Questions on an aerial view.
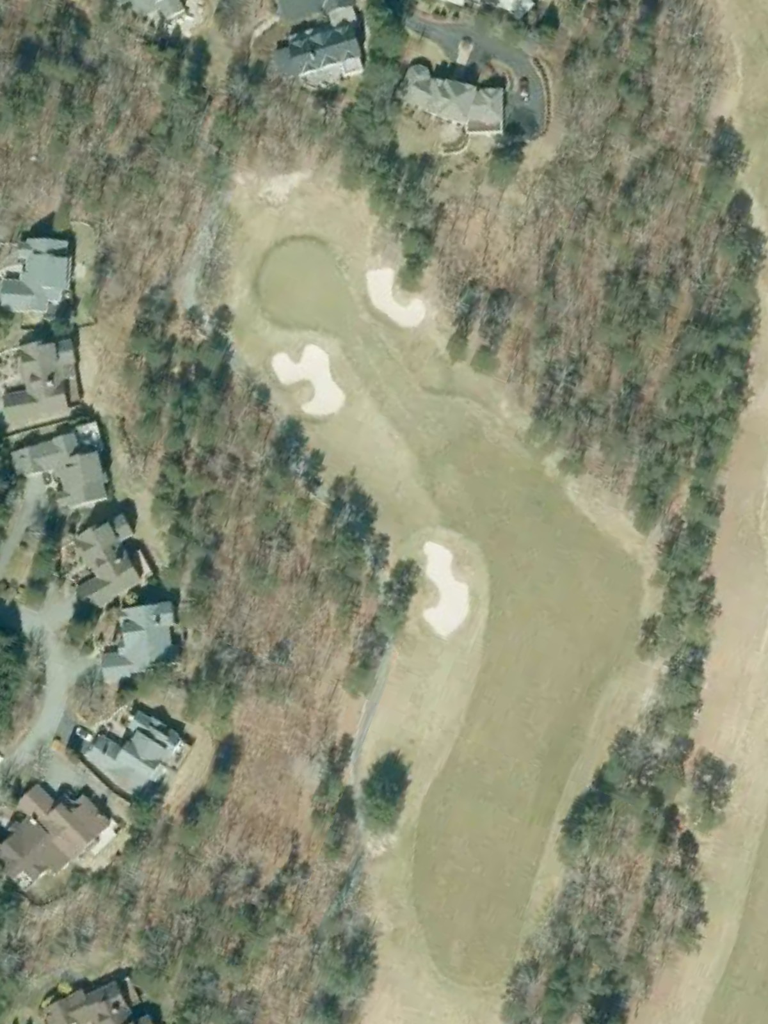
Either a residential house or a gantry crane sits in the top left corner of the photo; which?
residential house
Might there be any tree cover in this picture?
Yes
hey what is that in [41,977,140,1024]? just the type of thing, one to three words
house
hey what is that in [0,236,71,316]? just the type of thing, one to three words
house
